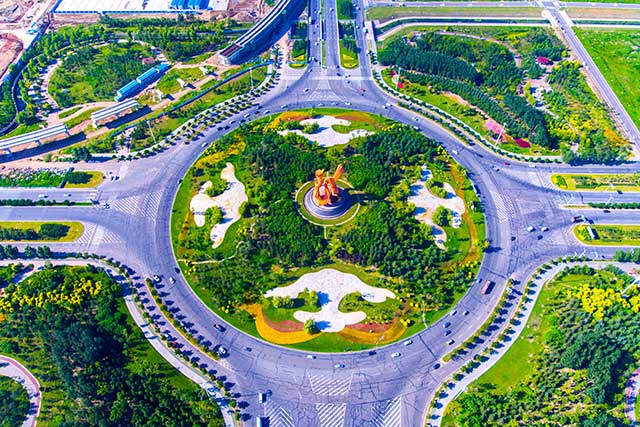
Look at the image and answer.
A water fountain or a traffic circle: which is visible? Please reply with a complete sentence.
Visible in the photo is a traffic circle.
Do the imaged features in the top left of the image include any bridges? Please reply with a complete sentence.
Yes, I can see a bridge in the top left of the image.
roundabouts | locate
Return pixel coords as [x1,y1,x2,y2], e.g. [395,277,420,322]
[141,94,503,388]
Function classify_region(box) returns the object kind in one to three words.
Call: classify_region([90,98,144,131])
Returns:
bridge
